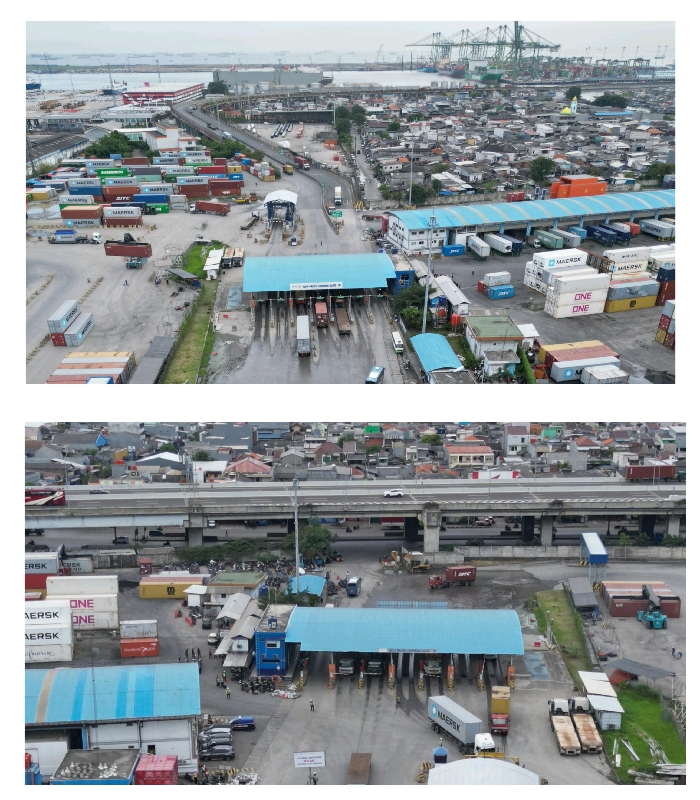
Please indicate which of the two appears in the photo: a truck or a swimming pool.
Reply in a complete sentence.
Visible in the photo is a truck.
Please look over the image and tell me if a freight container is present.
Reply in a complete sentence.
Yes, there's a freight container down there.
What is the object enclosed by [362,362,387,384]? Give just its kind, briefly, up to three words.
bus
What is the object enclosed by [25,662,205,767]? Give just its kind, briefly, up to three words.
building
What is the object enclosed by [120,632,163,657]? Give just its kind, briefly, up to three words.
shipping container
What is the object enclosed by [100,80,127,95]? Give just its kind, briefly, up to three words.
ship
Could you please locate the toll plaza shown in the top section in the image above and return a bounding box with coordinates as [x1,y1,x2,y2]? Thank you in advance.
[243,254,396,332]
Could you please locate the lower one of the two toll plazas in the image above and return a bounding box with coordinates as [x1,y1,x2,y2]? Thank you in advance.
[288,608,531,690]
